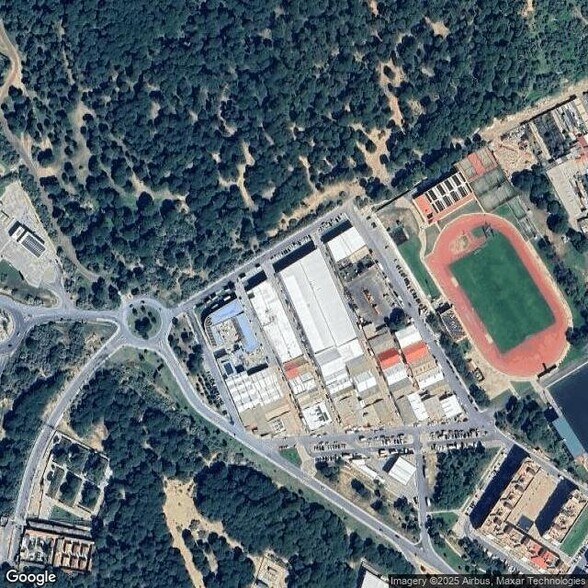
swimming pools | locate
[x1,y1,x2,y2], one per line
[516,514,535,533]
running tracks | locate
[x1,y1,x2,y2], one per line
[423,212,571,378]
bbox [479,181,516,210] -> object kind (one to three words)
tennis court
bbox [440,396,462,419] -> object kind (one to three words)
building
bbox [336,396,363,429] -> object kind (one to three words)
building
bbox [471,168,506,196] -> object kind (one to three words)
tennis court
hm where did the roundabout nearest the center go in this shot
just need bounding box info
[117,295,172,349]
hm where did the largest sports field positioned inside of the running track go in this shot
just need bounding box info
[450,230,555,353]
